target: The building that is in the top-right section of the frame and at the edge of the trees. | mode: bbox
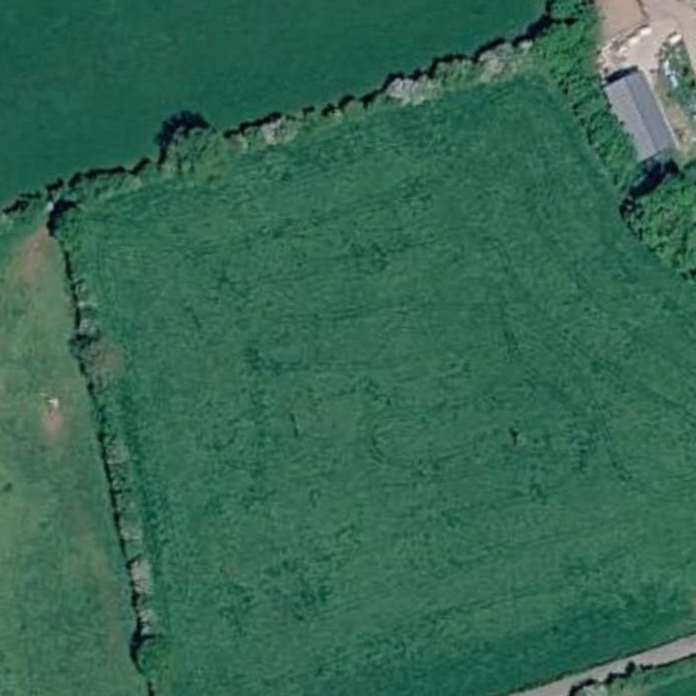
[603,69,675,163]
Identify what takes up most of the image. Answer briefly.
grass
